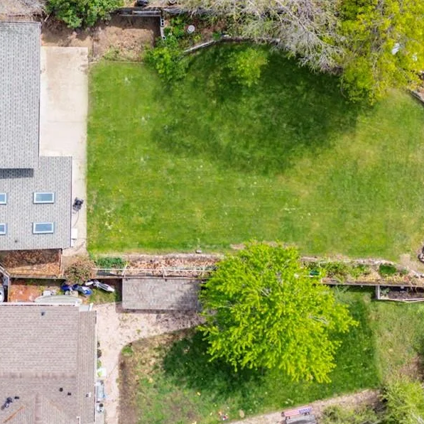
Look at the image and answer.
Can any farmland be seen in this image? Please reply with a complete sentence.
No, no farmland is visible.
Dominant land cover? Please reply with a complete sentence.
For the most part, this view shows grass.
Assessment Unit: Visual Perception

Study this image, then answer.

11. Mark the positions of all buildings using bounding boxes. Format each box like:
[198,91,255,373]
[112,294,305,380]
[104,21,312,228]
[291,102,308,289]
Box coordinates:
[0,301,99,424]
[122,274,202,311]
[0,22,74,250]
